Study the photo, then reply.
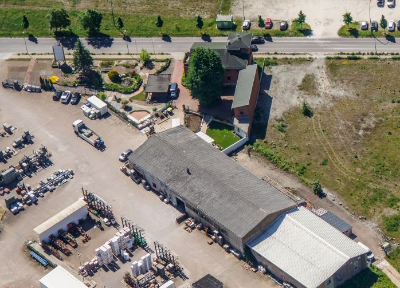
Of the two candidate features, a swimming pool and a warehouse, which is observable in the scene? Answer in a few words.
warehouse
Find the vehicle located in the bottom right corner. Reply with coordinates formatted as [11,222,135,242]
[358,239,376,260]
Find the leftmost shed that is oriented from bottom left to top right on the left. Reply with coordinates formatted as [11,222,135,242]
[31,199,89,247]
